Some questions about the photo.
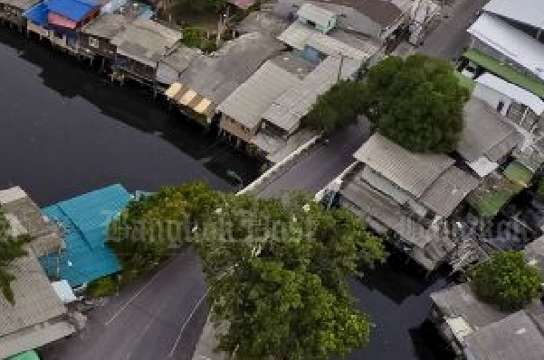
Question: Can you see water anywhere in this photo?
Yes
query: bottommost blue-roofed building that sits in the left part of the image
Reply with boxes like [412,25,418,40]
[42,190,127,298]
